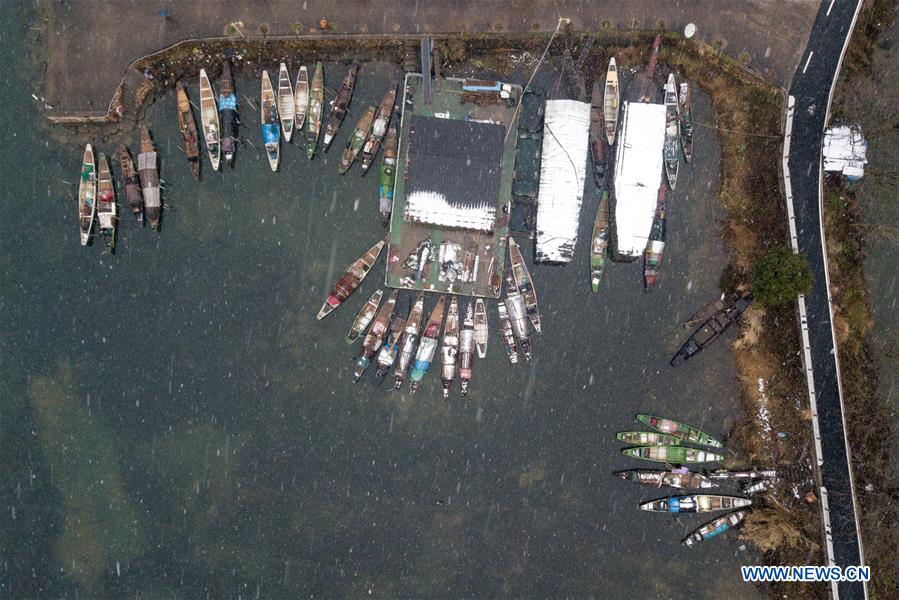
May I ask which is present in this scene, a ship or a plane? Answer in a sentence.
Of the two, only a ship appears.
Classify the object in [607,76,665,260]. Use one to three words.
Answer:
ship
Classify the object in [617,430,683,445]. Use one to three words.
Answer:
boat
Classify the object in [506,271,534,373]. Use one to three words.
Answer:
boat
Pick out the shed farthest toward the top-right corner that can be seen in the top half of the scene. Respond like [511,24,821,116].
[823,124,867,182]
